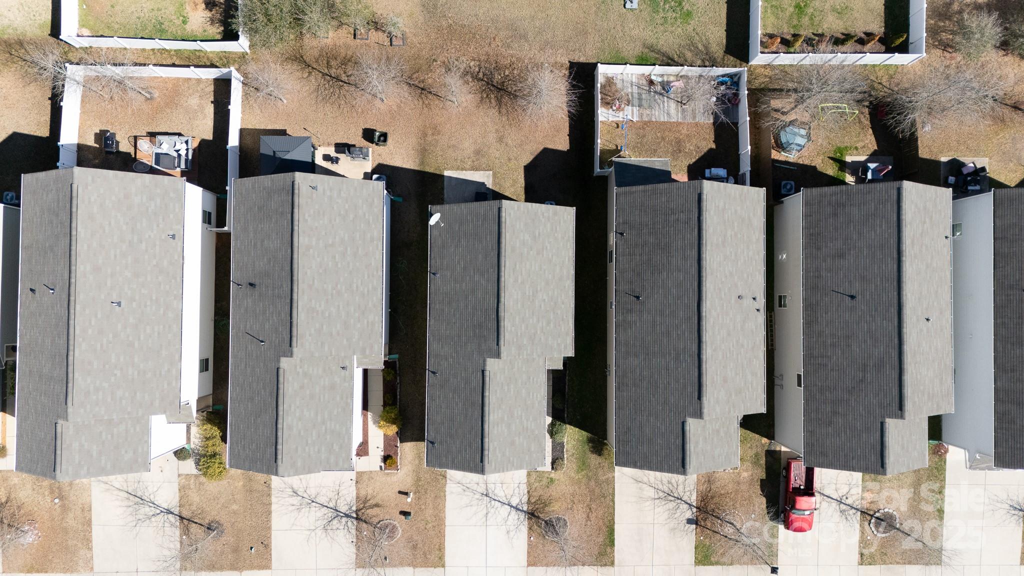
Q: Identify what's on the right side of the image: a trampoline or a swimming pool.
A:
trampoline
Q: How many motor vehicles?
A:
1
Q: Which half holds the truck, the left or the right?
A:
right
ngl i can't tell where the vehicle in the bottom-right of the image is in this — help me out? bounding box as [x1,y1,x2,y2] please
[782,453,820,532]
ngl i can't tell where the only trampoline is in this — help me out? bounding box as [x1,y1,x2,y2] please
[772,115,817,160]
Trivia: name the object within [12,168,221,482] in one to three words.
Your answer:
house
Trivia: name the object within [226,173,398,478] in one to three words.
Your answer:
house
